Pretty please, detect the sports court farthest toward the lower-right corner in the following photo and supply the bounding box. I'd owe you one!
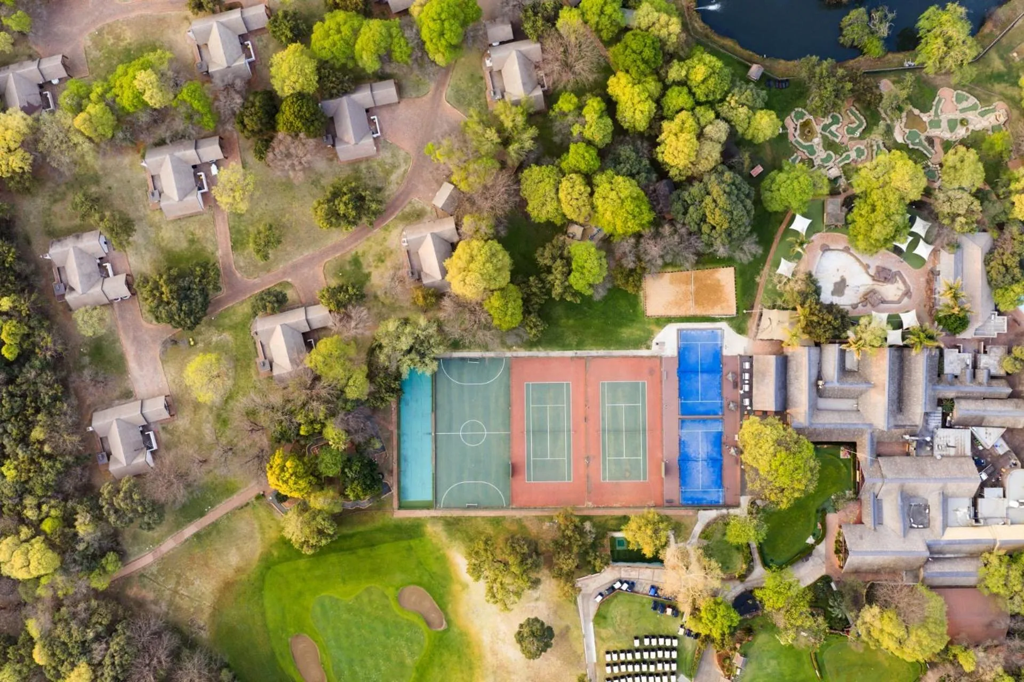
[680,419,729,509]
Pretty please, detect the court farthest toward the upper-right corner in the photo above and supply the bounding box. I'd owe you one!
[644,266,738,318]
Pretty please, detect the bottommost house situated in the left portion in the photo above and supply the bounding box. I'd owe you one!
[87,394,180,483]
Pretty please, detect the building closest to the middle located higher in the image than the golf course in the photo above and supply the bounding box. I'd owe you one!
[402,217,464,299]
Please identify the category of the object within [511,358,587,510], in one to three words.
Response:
tennis court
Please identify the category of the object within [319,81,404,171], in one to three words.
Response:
house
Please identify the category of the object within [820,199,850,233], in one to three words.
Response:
shed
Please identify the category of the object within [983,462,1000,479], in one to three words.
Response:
vehicle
